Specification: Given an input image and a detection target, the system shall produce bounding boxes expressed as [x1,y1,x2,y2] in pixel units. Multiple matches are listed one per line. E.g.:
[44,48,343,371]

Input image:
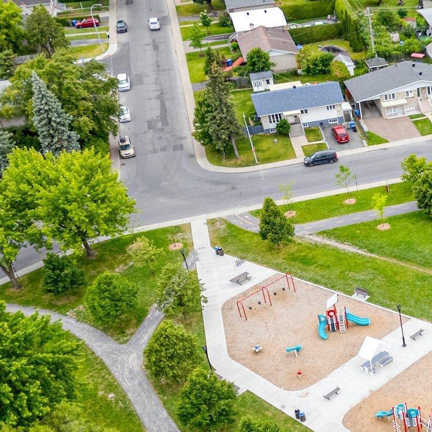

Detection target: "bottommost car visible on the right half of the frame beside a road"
[303,146,338,166]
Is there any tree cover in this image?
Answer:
Yes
